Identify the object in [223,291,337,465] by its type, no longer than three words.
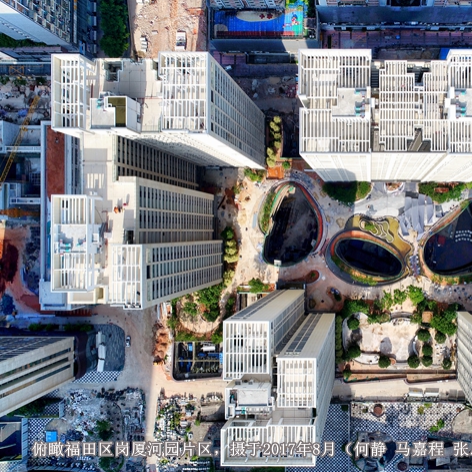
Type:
building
